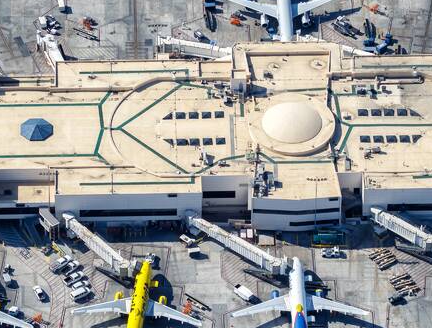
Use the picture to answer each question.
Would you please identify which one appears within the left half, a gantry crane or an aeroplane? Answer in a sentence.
There is an aeroplane within the left half.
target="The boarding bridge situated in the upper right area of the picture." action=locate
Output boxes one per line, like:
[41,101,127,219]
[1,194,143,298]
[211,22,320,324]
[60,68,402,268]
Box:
[290,32,372,56]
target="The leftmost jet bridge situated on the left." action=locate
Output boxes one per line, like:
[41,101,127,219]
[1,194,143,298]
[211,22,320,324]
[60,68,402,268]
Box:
[31,31,68,73]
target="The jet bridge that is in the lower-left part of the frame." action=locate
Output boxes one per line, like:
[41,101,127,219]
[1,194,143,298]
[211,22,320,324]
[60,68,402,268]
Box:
[58,209,141,283]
